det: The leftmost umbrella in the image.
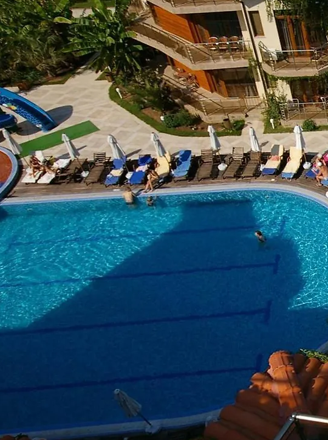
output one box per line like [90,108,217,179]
[2,128,28,162]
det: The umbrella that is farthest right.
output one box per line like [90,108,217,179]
[295,122,310,158]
